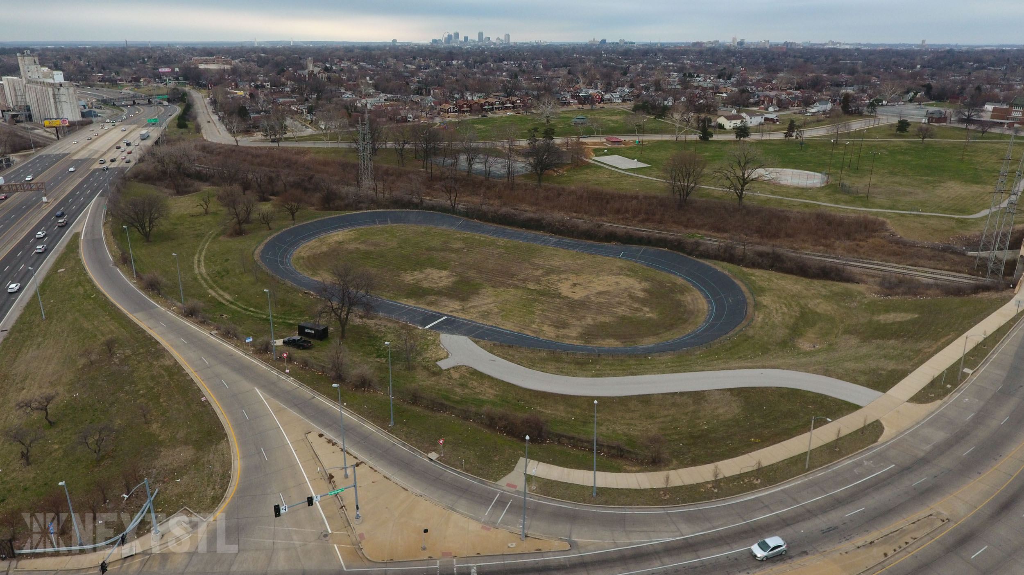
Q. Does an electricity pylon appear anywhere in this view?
Yes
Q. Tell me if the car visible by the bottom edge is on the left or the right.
right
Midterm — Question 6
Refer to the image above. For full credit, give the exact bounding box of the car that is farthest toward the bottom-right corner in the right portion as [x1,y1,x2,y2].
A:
[751,540,792,566]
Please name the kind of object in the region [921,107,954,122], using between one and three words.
house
